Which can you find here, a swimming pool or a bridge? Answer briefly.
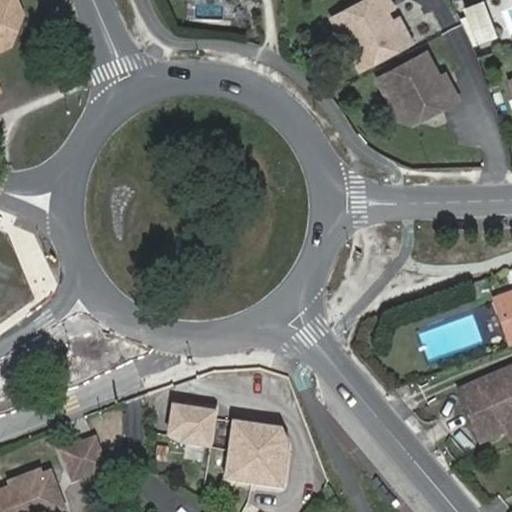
swimming pool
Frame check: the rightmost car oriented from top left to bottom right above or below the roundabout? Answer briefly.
below it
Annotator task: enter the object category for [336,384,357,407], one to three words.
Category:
car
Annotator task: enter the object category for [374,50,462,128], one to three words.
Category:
house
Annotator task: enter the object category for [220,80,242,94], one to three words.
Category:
vehicle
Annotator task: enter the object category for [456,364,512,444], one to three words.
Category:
house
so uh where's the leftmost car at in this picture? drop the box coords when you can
[168,66,190,78]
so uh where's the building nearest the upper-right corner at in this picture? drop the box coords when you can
[461,2,498,47]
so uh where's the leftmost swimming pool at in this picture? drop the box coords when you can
[195,4,224,19]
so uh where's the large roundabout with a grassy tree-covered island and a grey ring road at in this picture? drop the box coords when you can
[48,60,346,358]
